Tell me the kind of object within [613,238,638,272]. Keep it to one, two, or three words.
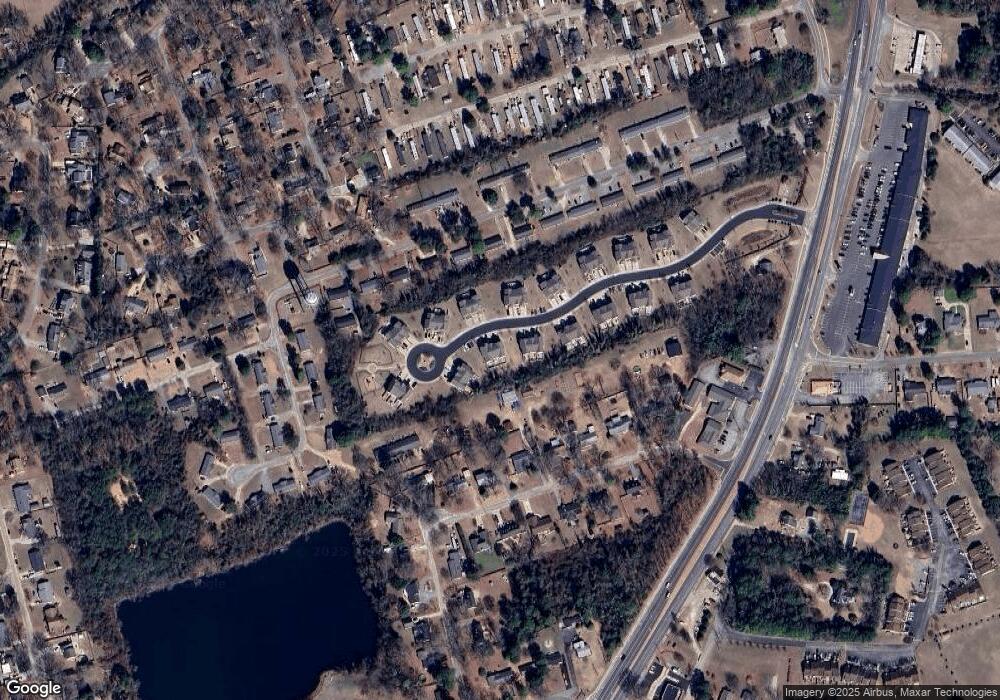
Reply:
house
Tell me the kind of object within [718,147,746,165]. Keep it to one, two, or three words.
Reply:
building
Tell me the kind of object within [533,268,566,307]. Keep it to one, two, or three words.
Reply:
house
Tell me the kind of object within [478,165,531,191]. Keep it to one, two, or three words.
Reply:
building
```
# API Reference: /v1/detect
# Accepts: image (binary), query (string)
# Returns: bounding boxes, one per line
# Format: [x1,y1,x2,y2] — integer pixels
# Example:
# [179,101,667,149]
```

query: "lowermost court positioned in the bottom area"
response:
[849,493,869,525]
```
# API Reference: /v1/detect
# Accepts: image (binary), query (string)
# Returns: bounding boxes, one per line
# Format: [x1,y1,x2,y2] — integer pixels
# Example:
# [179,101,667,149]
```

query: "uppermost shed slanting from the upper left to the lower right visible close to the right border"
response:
[943,127,995,180]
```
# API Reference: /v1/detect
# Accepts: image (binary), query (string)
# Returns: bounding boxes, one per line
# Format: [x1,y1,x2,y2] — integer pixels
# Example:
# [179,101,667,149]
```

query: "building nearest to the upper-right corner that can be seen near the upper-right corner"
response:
[913,35,926,73]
